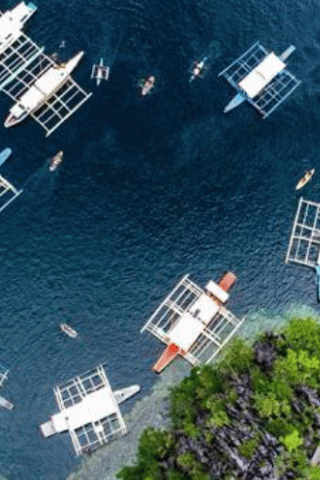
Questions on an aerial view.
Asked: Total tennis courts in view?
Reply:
0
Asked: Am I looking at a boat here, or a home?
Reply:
boat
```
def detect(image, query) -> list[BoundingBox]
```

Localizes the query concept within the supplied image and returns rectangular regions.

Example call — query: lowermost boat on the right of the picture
[141,272,245,373]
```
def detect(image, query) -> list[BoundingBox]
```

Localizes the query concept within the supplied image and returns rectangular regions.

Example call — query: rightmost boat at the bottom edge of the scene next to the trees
[39,363,140,458]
